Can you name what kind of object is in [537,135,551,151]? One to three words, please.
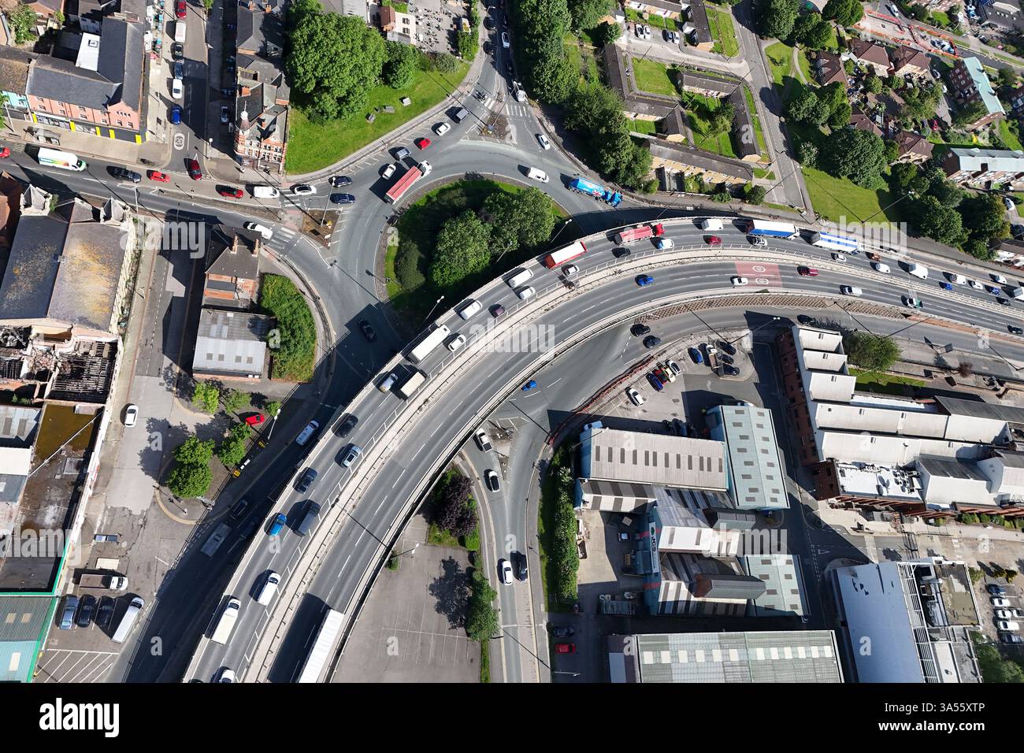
car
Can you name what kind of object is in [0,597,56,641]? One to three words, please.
building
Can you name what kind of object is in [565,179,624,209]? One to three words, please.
truck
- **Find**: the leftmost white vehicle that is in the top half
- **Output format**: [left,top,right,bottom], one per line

[38,146,85,171]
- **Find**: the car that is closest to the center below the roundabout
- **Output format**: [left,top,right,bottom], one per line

[520,379,539,393]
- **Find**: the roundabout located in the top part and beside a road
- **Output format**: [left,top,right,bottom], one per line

[373,173,586,352]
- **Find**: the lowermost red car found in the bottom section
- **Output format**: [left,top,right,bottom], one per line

[554,642,575,654]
